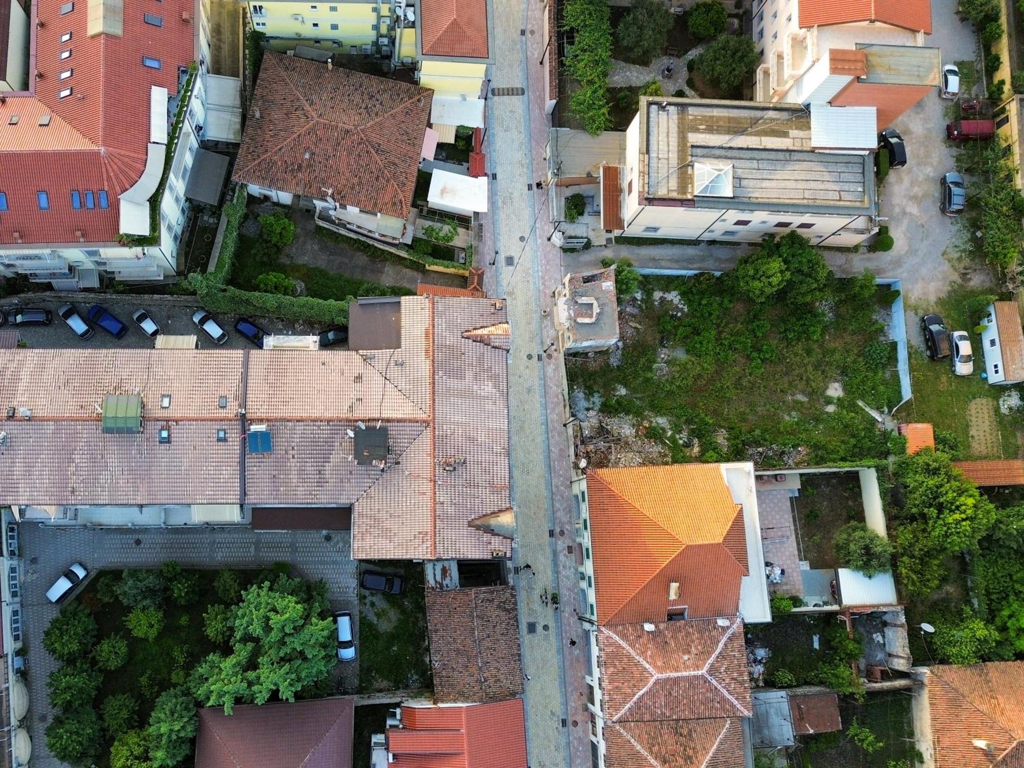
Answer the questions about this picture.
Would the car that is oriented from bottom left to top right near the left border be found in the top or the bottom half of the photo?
bottom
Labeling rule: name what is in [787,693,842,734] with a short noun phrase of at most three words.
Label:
shed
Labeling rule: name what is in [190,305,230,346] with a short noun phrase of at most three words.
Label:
car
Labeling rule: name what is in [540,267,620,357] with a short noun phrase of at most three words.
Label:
house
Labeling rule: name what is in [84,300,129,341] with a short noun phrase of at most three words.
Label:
car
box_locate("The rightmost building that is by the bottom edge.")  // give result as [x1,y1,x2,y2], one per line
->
[915,661,1024,768]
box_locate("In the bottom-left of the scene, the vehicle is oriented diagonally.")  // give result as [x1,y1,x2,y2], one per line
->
[41,561,89,606]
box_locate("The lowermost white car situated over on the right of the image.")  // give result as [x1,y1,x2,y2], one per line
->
[954,332,978,373]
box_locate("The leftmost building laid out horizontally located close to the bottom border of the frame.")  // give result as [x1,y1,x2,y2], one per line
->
[195,697,355,768]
